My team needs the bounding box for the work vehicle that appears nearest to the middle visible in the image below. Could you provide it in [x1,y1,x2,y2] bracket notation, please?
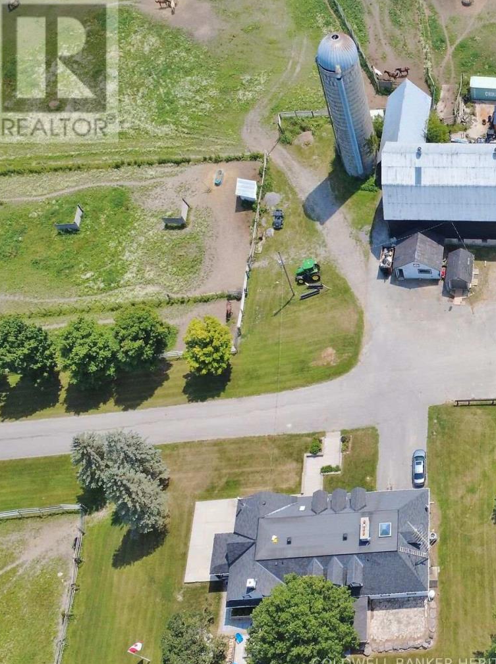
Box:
[289,262,323,285]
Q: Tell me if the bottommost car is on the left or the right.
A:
right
